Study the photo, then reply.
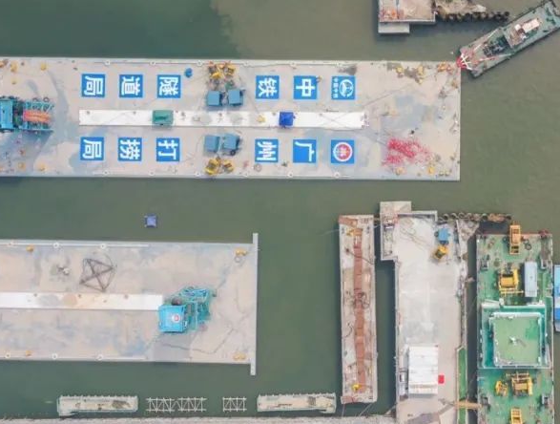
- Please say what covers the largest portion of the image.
water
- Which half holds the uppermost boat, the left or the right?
right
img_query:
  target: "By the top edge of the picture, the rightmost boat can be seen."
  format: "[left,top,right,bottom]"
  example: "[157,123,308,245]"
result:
[459,1,560,77]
